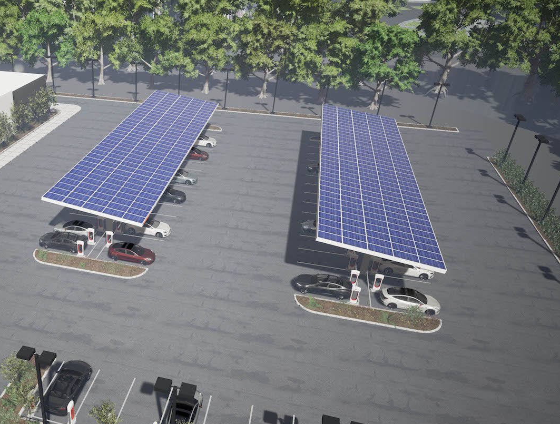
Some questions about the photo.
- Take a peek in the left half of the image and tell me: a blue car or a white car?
white car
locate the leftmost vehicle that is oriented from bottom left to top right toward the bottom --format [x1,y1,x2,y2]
[43,359,90,414]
